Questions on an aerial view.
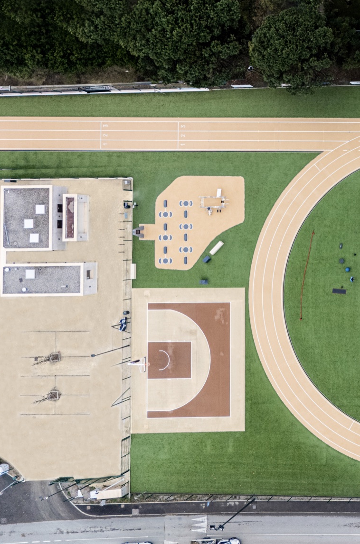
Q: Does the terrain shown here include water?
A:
No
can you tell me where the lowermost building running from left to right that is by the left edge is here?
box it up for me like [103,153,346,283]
[0,262,98,296]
